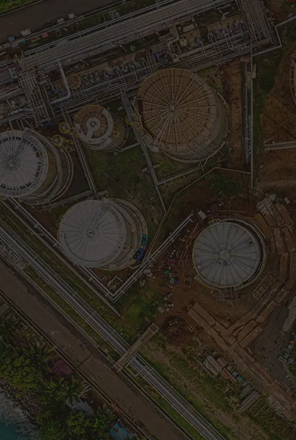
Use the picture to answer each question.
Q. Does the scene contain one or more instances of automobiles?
No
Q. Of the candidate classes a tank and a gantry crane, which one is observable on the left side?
tank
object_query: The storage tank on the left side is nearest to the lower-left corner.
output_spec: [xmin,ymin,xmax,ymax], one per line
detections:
[58,198,148,271]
